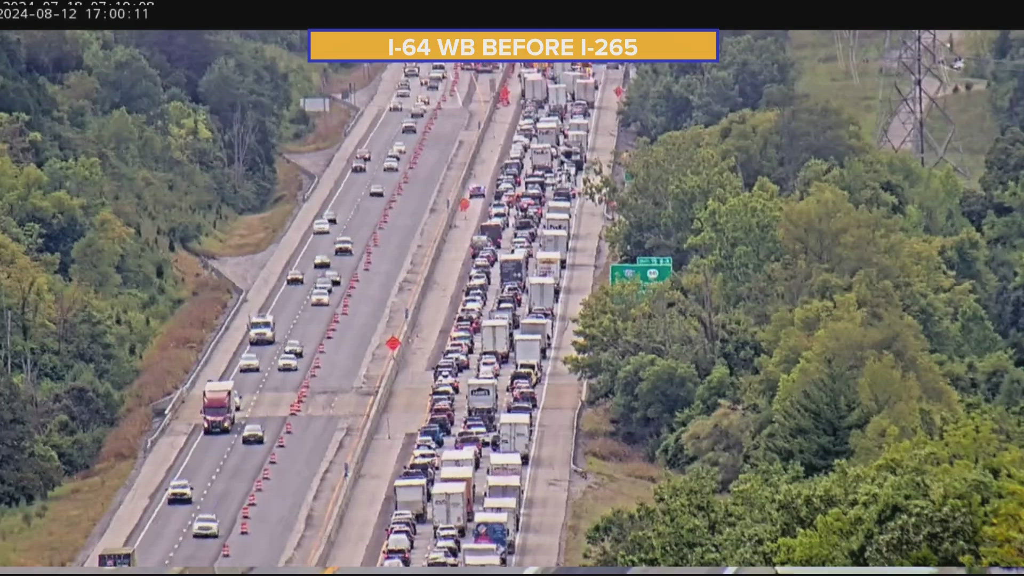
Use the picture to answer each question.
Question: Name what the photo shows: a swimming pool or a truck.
truck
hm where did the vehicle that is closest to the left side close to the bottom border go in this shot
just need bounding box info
[96,546,136,576]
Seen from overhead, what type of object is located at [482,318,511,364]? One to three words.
truck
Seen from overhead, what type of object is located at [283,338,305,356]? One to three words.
car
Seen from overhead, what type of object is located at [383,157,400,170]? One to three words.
vehicle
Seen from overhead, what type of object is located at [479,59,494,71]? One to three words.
vehicle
